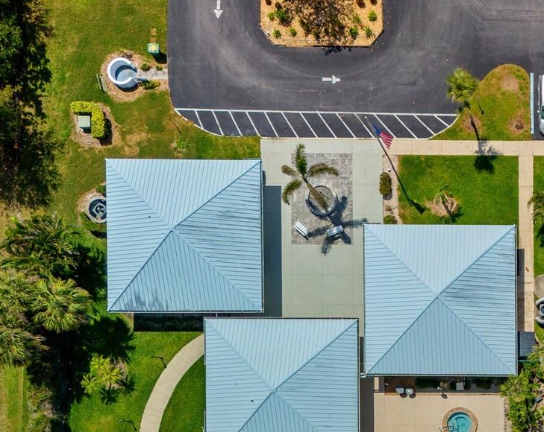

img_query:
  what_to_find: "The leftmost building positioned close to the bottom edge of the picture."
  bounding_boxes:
[203,316,362,432]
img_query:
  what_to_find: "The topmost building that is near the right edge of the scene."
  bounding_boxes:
[361,224,520,378]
